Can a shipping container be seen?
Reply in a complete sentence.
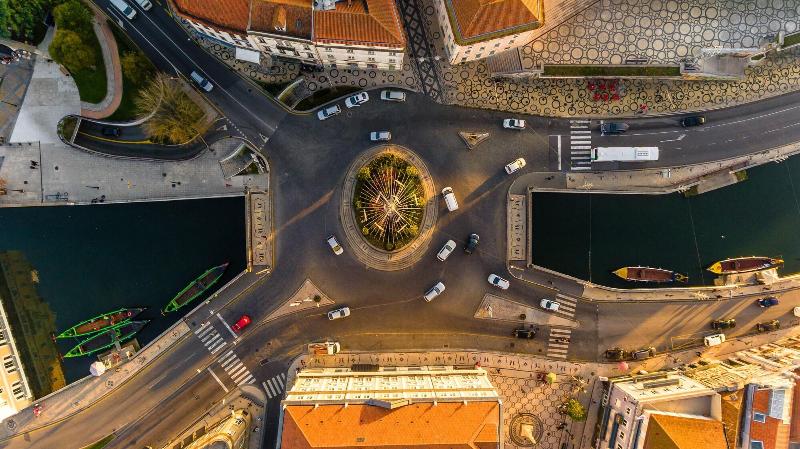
No, the frame has no shipping container in it.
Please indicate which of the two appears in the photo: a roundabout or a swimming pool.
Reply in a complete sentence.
The one in the frame is a roundabout.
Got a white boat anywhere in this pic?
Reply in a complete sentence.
No, the scene contains no white boat.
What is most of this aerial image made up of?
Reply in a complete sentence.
Most of the picture is covered by paved ground.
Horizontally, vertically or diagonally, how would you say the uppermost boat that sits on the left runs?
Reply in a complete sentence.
I'd say the uppermost boat that sits on the left is aligned diagonally in the picture.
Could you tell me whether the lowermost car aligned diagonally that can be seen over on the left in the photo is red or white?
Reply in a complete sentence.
From above, the lowermost car aligned diagonally that can be seen over on the left appears red.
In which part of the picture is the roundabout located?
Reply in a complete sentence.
Look in the center portion of the view to spot the roundabout.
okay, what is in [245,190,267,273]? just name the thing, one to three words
bridge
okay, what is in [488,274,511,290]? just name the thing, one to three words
car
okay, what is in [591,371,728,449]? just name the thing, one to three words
house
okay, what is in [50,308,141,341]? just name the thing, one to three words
boat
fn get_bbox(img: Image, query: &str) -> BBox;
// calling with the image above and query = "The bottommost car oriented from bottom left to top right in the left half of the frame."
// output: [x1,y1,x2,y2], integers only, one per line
[230,315,251,335]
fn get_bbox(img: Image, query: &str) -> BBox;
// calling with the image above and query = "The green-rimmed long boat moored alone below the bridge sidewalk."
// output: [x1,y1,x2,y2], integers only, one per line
[159,262,227,315]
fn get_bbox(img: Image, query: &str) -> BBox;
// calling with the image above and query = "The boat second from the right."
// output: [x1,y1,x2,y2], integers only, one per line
[615,266,692,283]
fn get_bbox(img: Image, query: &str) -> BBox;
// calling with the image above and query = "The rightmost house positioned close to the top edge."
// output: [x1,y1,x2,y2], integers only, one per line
[438,0,546,59]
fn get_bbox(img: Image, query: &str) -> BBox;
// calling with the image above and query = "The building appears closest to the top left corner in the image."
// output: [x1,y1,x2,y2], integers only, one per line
[173,0,263,55]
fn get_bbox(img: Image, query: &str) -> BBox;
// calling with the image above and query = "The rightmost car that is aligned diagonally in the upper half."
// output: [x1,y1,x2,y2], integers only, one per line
[503,155,528,175]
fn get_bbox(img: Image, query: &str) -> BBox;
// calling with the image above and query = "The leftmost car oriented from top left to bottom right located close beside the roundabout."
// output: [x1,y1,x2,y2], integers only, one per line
[326,234,343,256]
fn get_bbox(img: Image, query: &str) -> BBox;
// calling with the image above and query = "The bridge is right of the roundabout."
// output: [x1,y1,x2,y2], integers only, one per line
[510,187,534,270]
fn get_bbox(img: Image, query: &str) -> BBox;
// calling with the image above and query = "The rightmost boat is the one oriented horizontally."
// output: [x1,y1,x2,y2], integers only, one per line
[710,255,791,273]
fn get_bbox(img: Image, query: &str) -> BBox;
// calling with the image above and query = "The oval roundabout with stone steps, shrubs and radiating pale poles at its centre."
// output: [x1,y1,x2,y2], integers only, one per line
[338,145,438,272]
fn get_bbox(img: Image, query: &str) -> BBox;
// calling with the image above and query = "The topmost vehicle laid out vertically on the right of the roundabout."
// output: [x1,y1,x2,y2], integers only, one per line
[442,187,456,212]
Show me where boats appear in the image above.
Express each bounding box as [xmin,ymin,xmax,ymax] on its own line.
[710,255,791,273]
[615,266,692,283]
[60,320,146,360]
[159,262,227,315]
[50,308,141,341]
